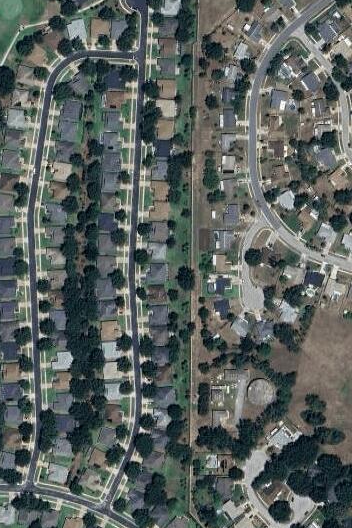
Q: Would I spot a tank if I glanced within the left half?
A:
No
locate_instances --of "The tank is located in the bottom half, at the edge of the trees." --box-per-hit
[247,378,276,406]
